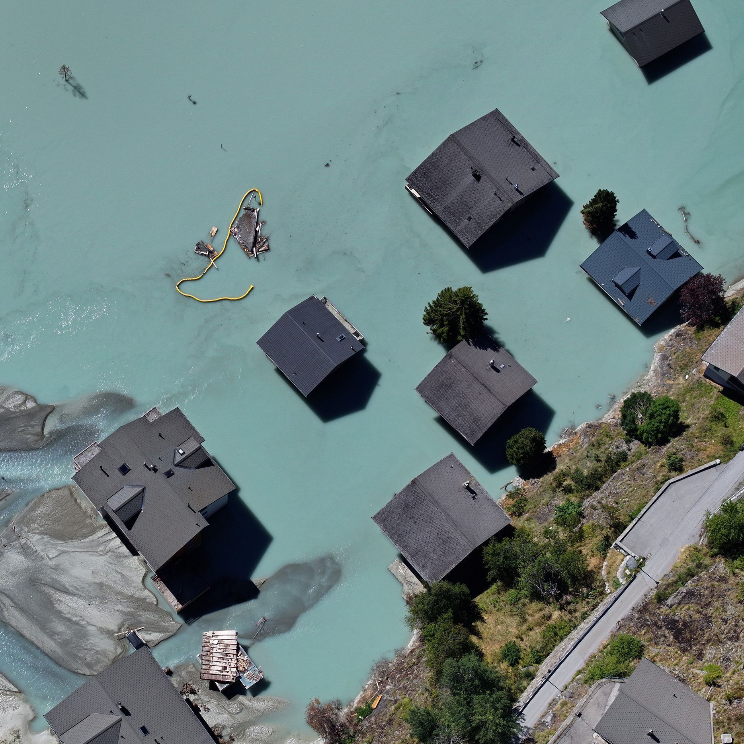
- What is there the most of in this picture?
water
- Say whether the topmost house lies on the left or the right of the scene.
right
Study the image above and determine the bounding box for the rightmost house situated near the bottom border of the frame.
[592,657,711,744]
